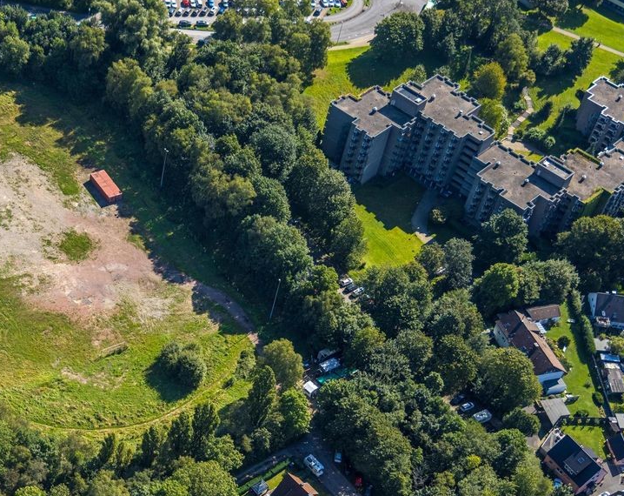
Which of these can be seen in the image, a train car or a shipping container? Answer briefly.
shipping container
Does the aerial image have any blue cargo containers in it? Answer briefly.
No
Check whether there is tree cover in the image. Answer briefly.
Yes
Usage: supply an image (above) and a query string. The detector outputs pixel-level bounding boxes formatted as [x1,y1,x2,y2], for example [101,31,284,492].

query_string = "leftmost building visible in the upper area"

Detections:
[321,73,499,194]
